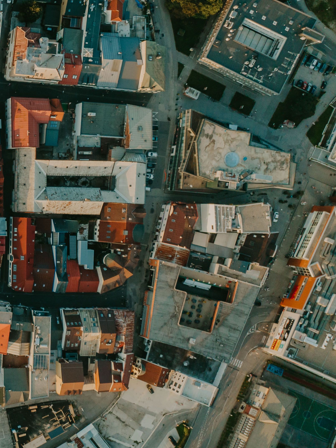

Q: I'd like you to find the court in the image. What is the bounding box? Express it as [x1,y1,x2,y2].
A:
[282,382,336,440]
